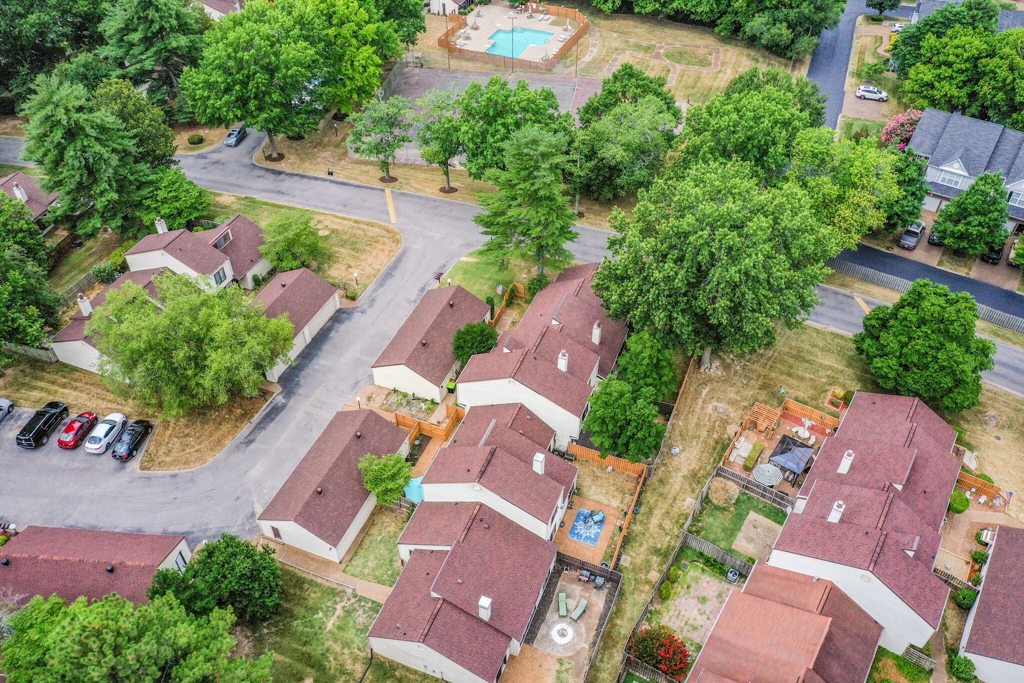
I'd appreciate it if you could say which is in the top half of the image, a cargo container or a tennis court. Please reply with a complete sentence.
It is a tennis court that can be seen in the top half of the image.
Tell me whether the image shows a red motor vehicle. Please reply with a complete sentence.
Yes, the image includes a red motor vehicle.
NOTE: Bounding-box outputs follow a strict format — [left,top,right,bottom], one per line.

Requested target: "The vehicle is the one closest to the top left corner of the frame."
[224,132,245,147]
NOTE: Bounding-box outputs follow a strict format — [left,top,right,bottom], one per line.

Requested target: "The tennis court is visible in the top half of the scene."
[346,68,606,172]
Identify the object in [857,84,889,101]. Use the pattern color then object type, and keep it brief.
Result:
white car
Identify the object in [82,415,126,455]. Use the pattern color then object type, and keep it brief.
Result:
white car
